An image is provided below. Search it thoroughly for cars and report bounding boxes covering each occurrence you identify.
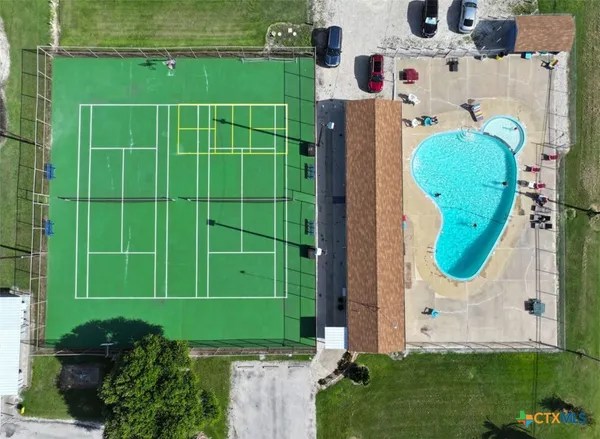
[367,56,386,93]
[325,26,343,67]
[419,0,439,38]
[457,0,477,34]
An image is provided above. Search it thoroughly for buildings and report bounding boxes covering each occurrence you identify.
[506,14,576,55]
[0,297,35,397]
[346,98,405,354]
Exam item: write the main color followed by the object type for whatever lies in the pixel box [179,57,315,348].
green tennis court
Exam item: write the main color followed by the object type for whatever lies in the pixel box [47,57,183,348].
green tennis court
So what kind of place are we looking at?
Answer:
sports ground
